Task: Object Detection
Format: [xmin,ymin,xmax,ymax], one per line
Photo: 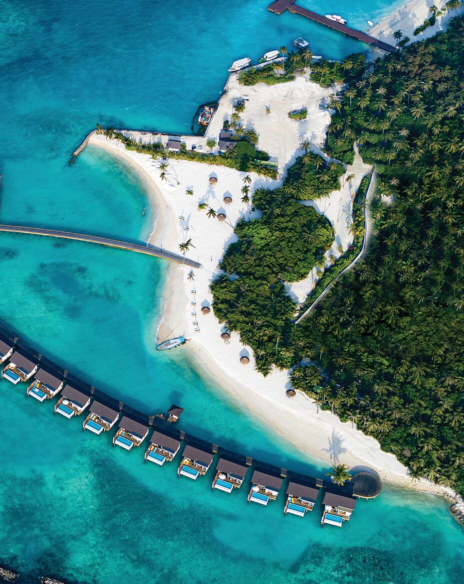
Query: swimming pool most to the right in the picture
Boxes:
[323,513,341,527]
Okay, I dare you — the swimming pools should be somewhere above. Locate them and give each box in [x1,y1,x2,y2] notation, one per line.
[213,478,231,492]
[285,503,303,516]
[179,465,197,479]
[116,435,132,449]
[86,419,103,433]
[5,370,21,384]
[323,513,341,527]
[30,387,47,401]
[147,450,165,465]
[250,492,268,505]
[58,403,74,417]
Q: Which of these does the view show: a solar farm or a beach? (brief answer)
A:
beach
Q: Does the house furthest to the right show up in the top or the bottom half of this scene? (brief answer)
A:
bottom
